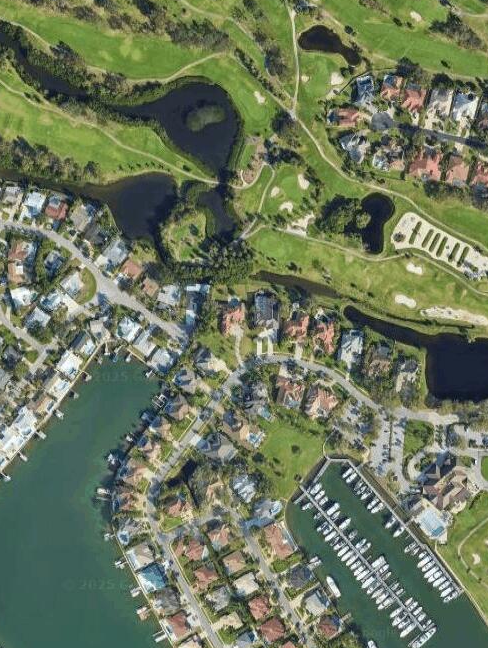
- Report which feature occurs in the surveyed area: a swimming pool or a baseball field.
swimming pool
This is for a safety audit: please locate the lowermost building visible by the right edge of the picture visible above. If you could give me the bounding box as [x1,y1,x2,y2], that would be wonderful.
[404,448,471,512]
